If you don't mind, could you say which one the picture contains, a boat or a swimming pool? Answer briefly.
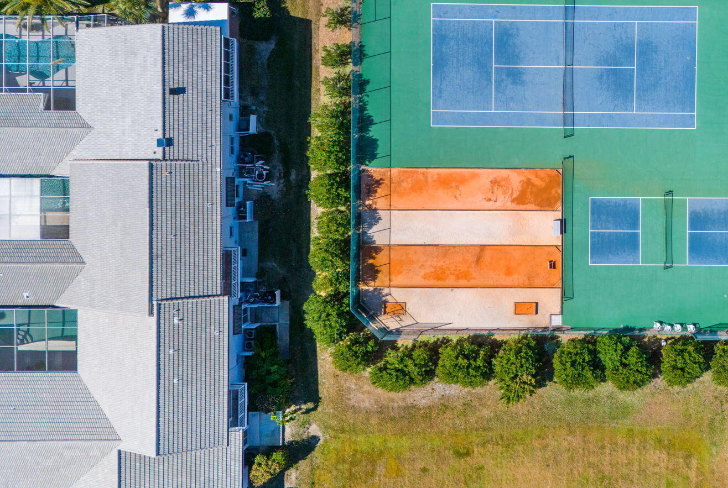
swimming pool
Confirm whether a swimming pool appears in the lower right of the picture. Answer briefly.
No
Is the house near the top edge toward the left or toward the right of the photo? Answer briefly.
left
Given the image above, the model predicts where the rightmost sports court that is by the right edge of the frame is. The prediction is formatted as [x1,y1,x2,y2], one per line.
[589,197,728,267]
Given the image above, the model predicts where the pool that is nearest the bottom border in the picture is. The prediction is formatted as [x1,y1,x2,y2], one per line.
[41,184,69,219]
